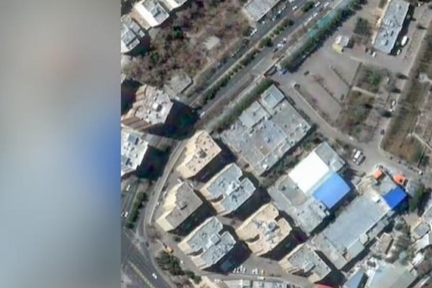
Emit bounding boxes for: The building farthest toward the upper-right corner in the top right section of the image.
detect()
[371,0,410,55]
